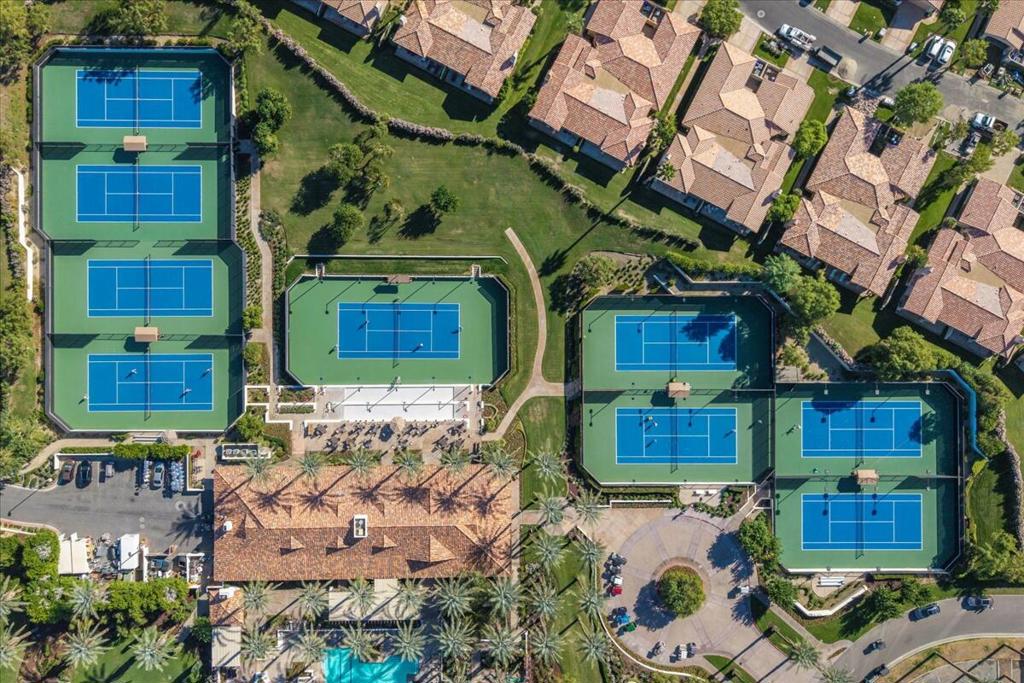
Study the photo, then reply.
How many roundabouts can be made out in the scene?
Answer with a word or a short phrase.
1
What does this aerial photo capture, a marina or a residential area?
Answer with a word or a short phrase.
residential area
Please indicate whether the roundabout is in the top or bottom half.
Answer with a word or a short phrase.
bottom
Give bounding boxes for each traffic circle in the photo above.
[609,515,755,661]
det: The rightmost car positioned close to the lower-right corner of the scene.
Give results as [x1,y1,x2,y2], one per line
[965,598,993,611]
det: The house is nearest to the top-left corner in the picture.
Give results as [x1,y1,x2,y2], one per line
[288,0,395,47]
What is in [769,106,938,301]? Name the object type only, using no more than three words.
house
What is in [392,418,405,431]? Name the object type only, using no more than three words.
umbrella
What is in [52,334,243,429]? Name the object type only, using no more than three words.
tennis court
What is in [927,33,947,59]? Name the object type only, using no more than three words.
vehicle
